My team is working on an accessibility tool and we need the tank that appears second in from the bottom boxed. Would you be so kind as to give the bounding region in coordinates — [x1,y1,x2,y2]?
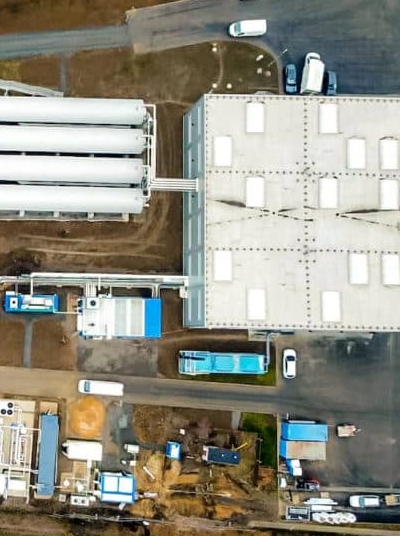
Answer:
[0,156,145,185]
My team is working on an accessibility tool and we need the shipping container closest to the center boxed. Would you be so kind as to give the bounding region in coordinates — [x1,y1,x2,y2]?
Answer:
[179,350,267,376]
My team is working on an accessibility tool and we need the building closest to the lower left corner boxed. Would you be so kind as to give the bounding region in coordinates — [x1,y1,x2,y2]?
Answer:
[55,460,100,497]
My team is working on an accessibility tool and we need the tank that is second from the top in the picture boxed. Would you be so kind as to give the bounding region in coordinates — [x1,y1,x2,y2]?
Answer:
[0,127,145,156]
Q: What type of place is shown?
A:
industrial area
